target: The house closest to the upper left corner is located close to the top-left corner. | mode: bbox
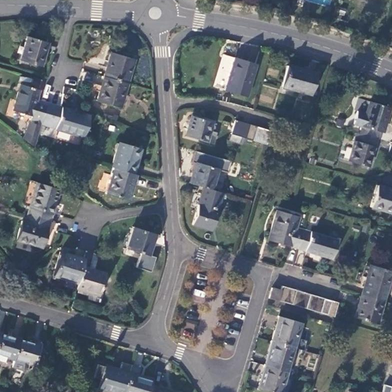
[16,38,52,70]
